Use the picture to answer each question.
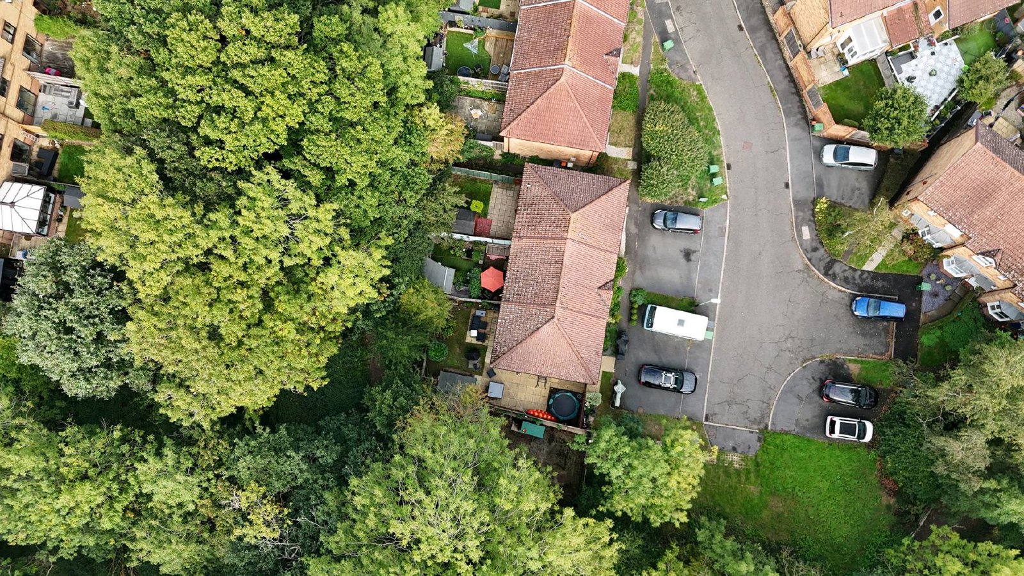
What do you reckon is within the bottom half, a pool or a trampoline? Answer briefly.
trampoline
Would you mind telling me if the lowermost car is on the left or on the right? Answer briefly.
right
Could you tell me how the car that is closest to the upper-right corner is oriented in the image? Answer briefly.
from left to right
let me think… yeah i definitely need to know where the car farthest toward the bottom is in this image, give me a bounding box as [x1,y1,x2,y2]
[823,414,874,445]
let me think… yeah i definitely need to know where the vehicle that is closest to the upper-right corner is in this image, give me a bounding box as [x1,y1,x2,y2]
[819,141,880,172]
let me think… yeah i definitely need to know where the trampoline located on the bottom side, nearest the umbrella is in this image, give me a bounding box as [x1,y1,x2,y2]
[550,390,581,421]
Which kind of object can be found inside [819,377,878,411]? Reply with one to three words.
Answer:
car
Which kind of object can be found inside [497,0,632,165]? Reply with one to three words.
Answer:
house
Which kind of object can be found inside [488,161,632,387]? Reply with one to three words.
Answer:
house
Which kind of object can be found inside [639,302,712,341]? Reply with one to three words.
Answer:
van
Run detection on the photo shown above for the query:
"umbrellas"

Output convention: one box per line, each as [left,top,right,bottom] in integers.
[482,268,503,293]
